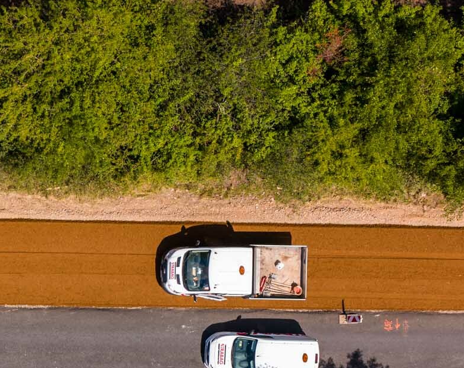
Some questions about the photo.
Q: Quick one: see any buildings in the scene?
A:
No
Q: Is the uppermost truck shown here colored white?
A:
Yes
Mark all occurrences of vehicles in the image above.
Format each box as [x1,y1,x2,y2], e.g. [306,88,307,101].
[159,241,308,305]
[203,329,318,368]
